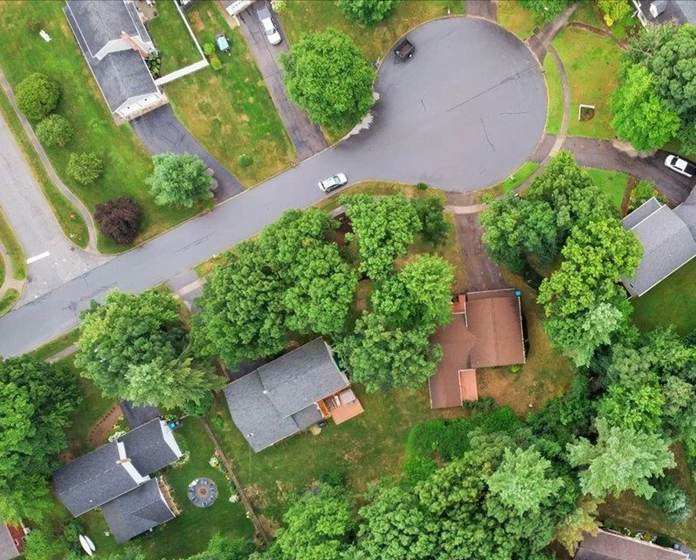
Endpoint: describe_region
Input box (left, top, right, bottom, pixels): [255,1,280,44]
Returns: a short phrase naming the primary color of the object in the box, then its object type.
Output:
white truck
